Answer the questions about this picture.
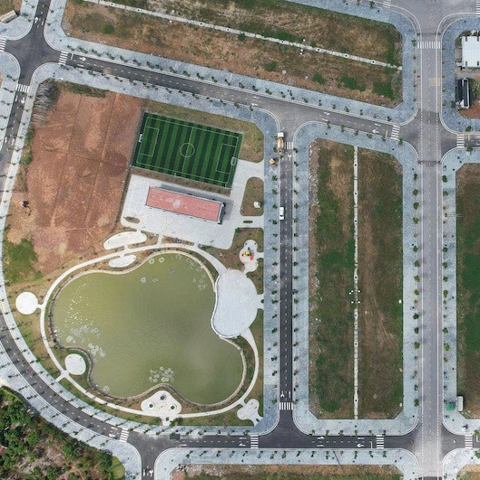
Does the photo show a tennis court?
No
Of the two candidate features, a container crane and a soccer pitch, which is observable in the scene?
soccer pitch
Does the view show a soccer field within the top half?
Yes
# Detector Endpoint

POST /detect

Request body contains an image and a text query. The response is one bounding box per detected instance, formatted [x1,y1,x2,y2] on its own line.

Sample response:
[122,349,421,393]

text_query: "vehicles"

[277,132,283,153]
[278,206,284,219]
